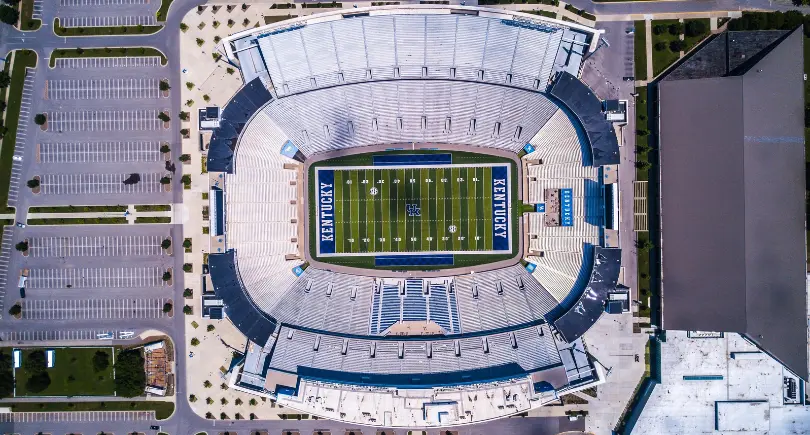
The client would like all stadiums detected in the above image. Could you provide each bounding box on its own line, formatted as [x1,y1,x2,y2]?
[197,4,632,429]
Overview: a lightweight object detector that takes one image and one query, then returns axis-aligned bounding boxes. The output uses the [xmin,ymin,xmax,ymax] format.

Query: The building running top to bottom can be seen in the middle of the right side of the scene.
[653,25,808,382]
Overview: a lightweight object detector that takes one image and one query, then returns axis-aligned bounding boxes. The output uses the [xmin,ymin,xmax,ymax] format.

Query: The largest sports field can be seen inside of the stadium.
[309,149,520,269]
